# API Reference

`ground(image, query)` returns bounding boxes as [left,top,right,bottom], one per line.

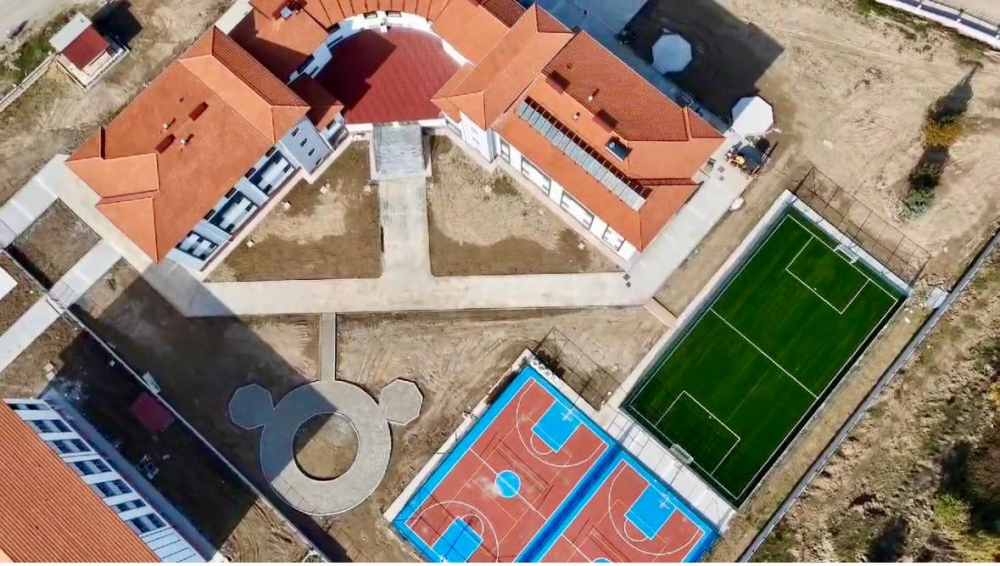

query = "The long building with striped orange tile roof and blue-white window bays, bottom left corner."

[0,391,211,566]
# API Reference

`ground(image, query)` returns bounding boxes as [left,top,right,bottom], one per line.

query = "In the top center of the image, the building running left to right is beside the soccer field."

[66,0,724,274]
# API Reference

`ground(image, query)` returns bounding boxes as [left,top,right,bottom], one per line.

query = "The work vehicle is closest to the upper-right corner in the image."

[722,139,758,182]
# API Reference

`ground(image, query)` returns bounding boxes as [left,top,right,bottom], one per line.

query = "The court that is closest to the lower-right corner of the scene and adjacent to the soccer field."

[520,446,719,566]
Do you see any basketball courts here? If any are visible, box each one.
[520,446,719,566]
[393,365,621,566]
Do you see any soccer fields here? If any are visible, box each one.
[617,204,907,509]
